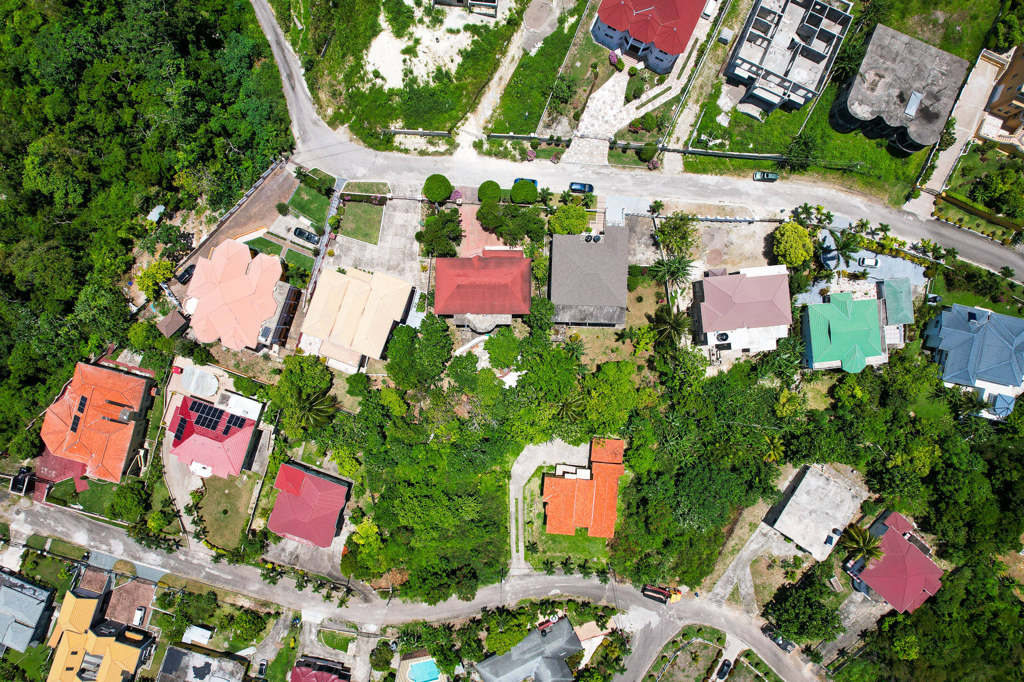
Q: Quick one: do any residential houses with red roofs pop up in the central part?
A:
Yes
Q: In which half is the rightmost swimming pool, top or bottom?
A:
bottom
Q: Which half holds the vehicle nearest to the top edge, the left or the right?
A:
right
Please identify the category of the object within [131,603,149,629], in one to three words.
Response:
vehicle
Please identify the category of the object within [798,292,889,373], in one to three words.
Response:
building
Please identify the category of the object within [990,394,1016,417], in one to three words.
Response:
gazebo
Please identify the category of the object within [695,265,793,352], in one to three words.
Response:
house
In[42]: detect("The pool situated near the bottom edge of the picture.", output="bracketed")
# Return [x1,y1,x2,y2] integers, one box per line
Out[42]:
[402,659,441,682]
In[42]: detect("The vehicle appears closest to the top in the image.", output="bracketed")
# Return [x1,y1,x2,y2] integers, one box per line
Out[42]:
[698,0,718,24]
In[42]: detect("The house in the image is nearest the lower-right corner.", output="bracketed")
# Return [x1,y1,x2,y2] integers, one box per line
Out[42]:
[843,508,944,615]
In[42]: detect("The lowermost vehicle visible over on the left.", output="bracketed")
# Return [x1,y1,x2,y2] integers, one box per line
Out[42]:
[257,656,271,680]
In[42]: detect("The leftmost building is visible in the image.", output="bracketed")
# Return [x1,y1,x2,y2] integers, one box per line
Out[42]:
[0,565,64,653]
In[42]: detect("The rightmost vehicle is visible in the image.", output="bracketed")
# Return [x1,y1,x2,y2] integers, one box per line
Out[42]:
[857,257,881,269]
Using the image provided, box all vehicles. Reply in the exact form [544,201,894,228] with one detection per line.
[641,580,684,607]
[569,182,594,195]
[13,468,29,491]
[857,257,881,269]
[257,656,271,680]
[752,170,779,183]
[131,603,149,629]
[714,656,733,682]
[175,263,196,287]
[761,620,792,656]
[293,227,320,244]
[698,0,718,24]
